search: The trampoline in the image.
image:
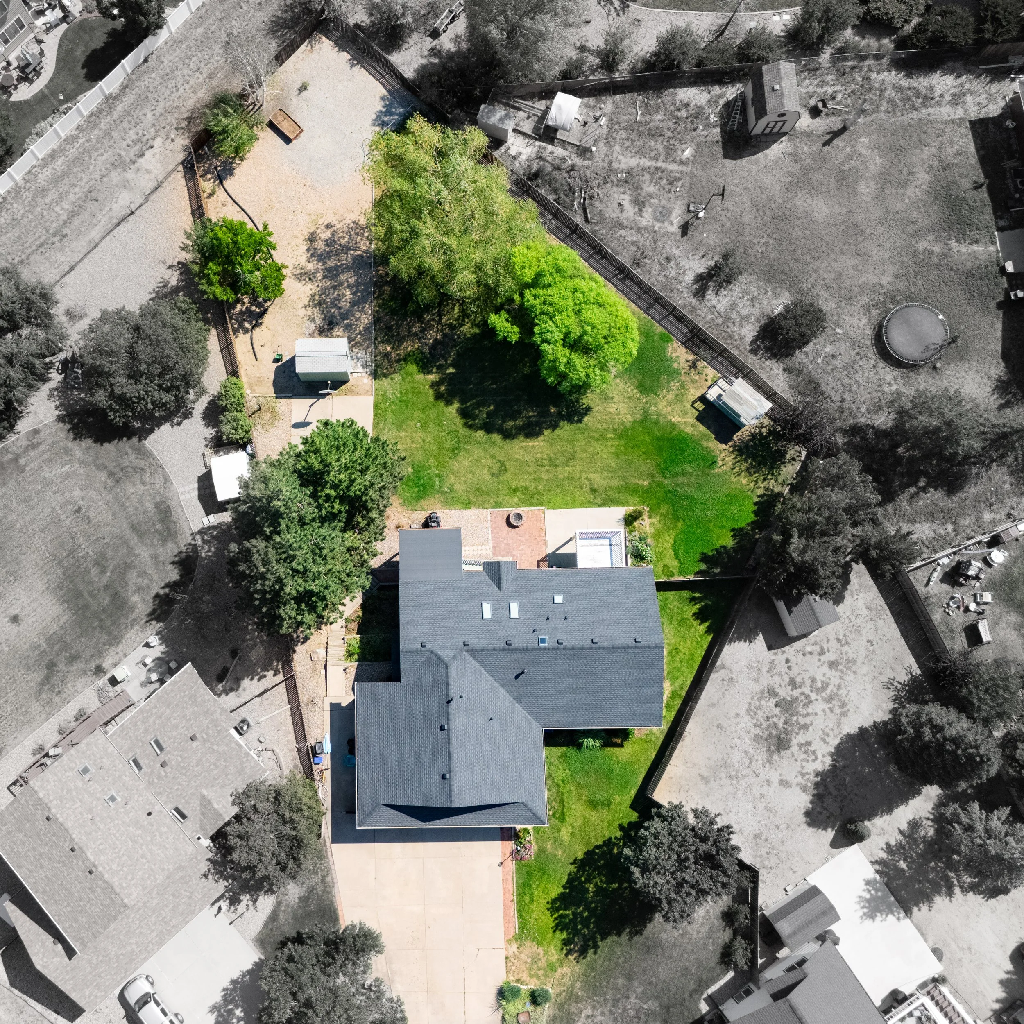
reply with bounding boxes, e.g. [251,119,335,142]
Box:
[880,299,954,368]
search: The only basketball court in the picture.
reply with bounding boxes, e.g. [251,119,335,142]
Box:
[288,396,372,471]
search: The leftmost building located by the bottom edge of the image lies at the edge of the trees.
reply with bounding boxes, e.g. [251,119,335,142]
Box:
[0,662,269,1010]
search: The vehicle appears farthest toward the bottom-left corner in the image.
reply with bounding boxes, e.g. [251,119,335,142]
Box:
[113,972,185,1024]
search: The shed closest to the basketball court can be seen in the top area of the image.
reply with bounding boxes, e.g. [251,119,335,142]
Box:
[295,337,349,381]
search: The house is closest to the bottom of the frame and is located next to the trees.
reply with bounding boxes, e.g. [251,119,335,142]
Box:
[720,877,890,1024]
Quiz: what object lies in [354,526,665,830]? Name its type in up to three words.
house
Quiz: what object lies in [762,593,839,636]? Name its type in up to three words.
shed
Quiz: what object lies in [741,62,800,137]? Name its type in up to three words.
shed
